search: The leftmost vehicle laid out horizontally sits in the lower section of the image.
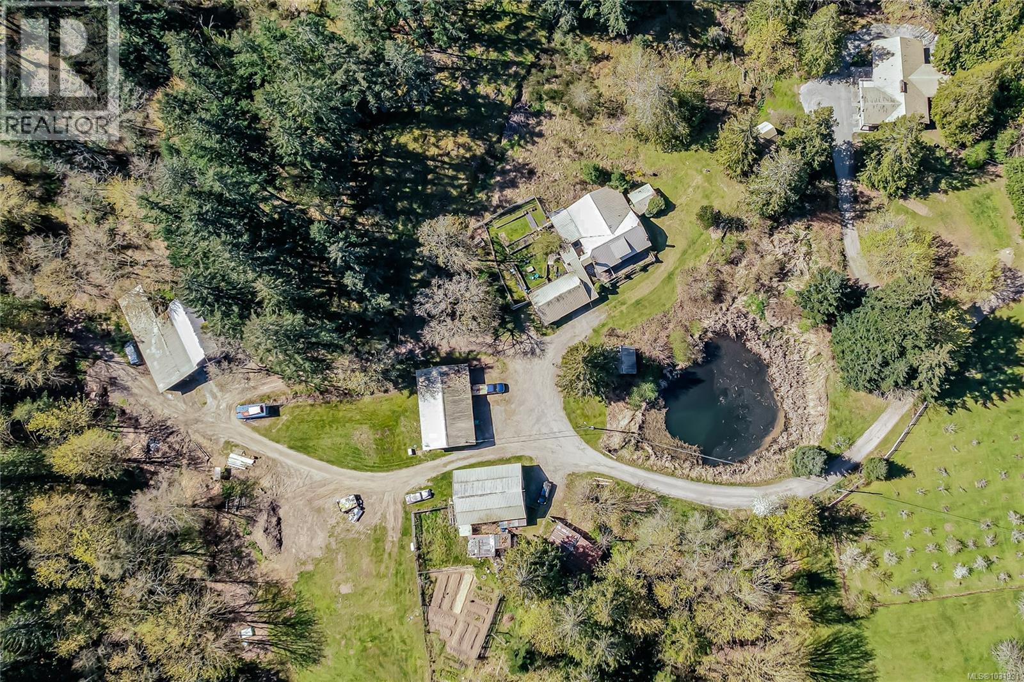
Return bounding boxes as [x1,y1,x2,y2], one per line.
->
[235,404,272,420]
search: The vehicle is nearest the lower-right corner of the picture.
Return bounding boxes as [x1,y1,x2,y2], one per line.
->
[537,479,552,507]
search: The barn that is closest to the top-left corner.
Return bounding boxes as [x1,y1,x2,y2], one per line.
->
[119,286,221,392]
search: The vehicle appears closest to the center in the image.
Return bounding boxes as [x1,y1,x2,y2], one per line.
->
[471,383,509,396]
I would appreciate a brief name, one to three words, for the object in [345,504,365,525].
vehicle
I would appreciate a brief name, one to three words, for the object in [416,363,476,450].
barn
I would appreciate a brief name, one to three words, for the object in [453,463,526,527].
barn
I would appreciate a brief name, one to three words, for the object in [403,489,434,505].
car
